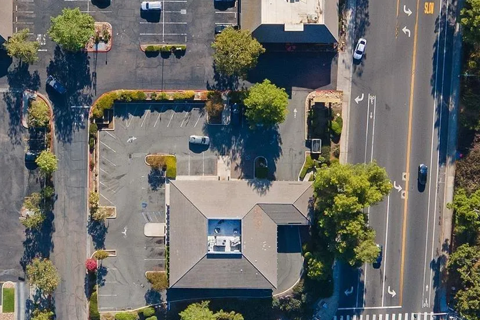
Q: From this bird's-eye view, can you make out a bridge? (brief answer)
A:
No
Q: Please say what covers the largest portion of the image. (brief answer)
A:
paved ground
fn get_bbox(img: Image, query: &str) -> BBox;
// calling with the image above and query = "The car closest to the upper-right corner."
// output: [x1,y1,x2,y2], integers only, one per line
[351,37,367,60]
